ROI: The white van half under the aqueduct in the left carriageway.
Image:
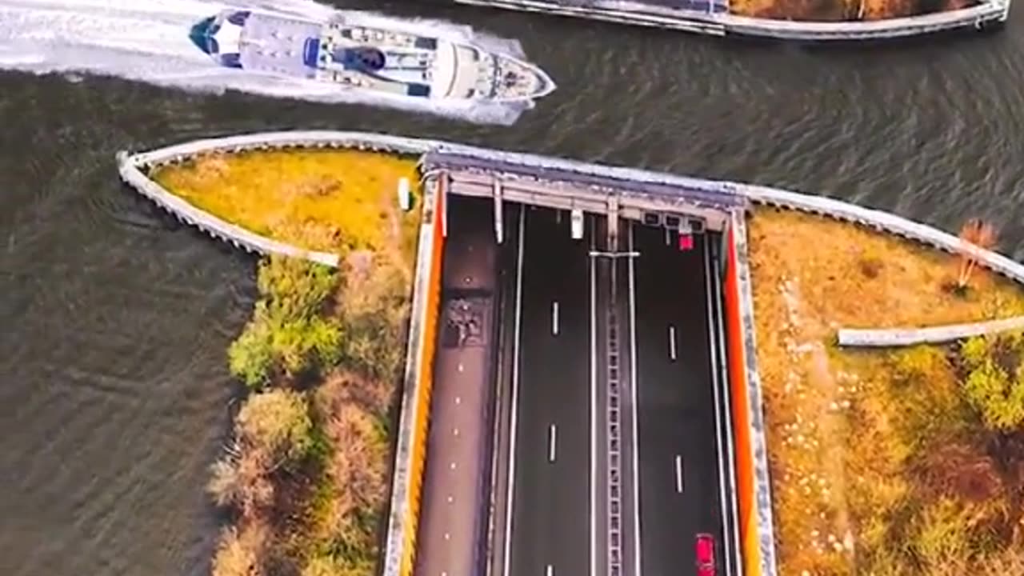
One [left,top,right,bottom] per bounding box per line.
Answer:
[568,212,584,242]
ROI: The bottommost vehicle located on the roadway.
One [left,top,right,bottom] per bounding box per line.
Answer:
[695,531,720,576]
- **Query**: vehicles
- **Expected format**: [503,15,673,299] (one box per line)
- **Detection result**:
[568,212,584,242]
[678,225,693,249]
[695,531,720,576]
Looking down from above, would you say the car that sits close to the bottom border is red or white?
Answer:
red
